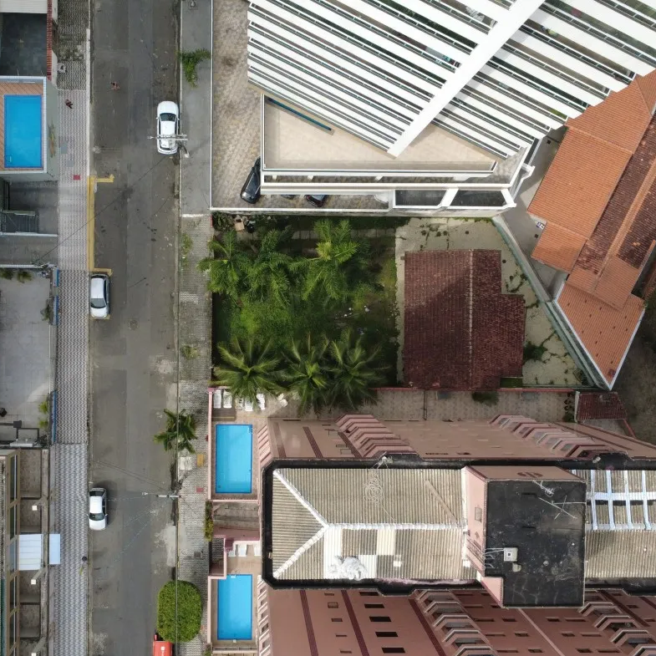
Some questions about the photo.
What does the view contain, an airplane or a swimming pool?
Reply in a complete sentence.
Visible in the photo is a swimming pool.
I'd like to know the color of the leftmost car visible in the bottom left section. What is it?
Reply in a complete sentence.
The leftmost car visible in the bottom left section looks white in the image.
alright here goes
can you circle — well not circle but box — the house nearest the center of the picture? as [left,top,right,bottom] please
[402,249,525,391]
